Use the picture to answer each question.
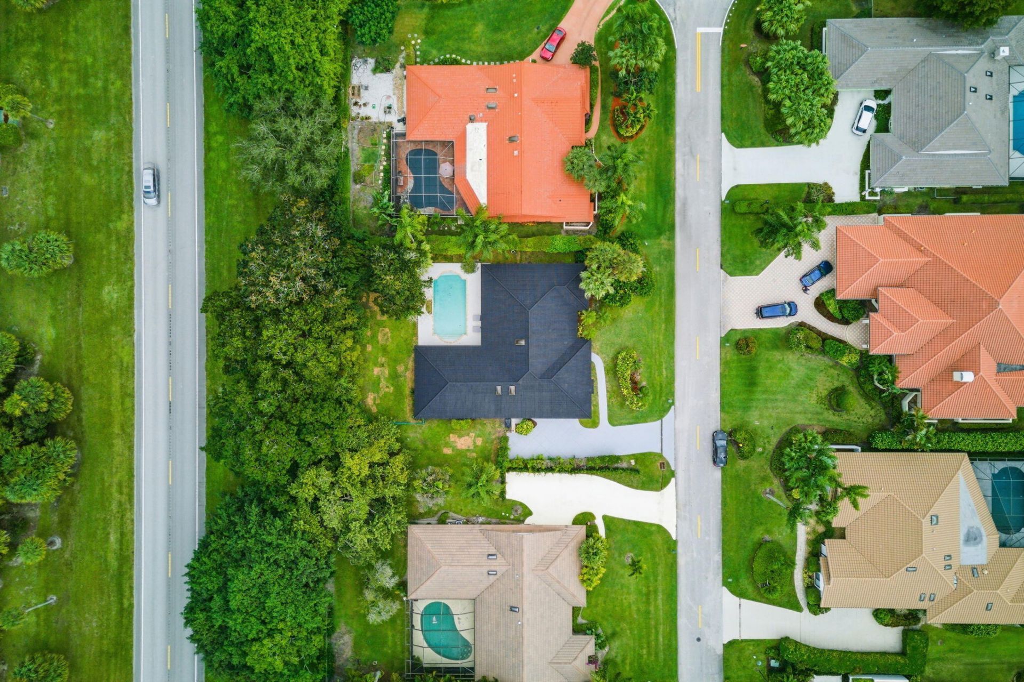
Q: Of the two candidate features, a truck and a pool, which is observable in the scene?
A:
pool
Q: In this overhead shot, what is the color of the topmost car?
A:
red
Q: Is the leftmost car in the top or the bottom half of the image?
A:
top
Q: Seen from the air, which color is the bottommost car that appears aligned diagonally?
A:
blue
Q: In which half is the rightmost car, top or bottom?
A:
top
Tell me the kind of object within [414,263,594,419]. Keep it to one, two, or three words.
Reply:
house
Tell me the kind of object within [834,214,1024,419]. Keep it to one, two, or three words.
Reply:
house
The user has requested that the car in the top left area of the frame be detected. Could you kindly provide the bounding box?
[141,166,161,204]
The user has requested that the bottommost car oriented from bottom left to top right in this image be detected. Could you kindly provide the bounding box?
[798,260,834,288]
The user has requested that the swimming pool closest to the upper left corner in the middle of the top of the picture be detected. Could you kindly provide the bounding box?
[395,132,471,216]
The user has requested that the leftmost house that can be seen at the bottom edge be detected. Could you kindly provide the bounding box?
[407,524,595,682]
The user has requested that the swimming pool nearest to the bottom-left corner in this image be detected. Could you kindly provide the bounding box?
[413,599,475,673]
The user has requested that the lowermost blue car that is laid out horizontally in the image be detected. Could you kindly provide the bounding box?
[757,300,796,319]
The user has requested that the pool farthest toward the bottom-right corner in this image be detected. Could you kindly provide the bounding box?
[969,456,1024,547]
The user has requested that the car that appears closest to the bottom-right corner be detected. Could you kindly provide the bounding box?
[711,430,729,467]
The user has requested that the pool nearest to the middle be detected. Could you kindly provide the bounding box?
[418,263,481,345]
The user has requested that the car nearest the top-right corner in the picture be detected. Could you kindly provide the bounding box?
[851,98,877,136]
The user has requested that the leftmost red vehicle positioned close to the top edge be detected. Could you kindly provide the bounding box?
[541,25,567,61]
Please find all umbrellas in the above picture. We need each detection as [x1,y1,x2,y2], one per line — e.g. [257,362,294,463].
[439,163,453,177]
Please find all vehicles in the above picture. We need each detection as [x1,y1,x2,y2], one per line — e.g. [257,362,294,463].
[851,98,877,136]
[541,25,567,61]
[757,300,796,319]
[141,166,161,204]
[798,260,834,288]
[711,430,729,467]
